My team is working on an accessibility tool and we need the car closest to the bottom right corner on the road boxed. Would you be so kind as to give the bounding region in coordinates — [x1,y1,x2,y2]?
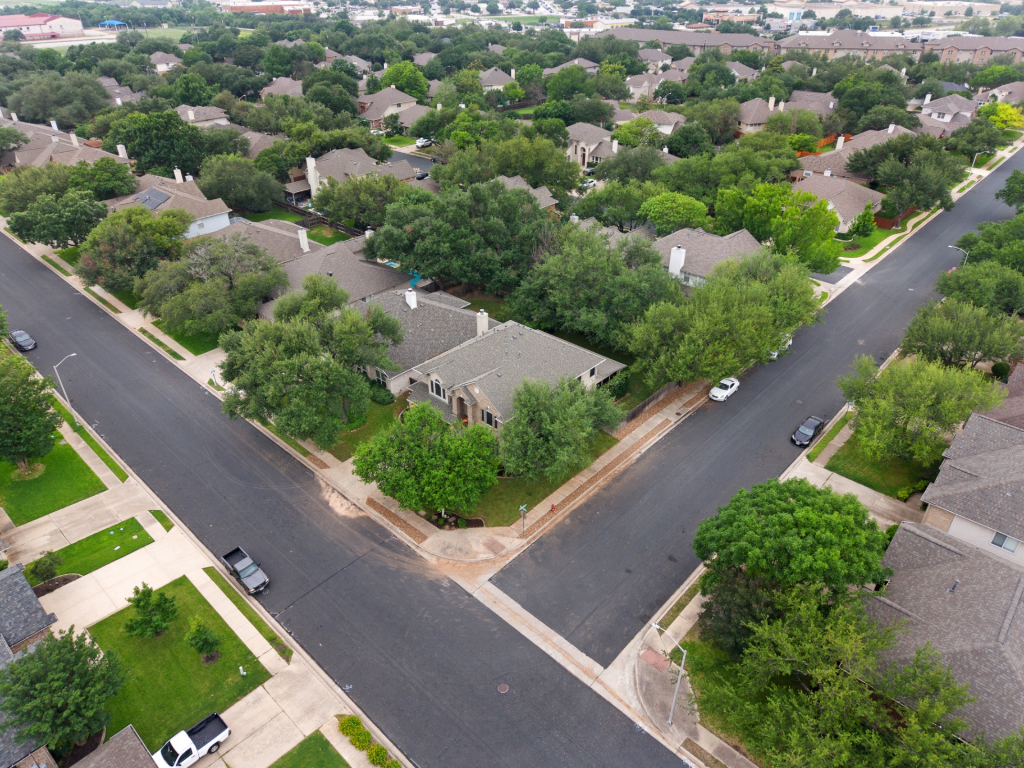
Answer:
[790,415,825,447]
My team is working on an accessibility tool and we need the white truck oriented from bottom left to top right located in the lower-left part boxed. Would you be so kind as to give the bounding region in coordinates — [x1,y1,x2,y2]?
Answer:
[153,705,242,768]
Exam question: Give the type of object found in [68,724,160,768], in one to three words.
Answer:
house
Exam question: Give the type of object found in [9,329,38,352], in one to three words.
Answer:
car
